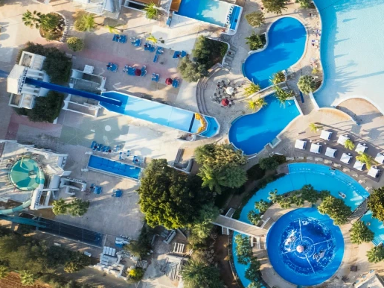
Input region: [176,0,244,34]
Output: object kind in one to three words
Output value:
swimming pool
